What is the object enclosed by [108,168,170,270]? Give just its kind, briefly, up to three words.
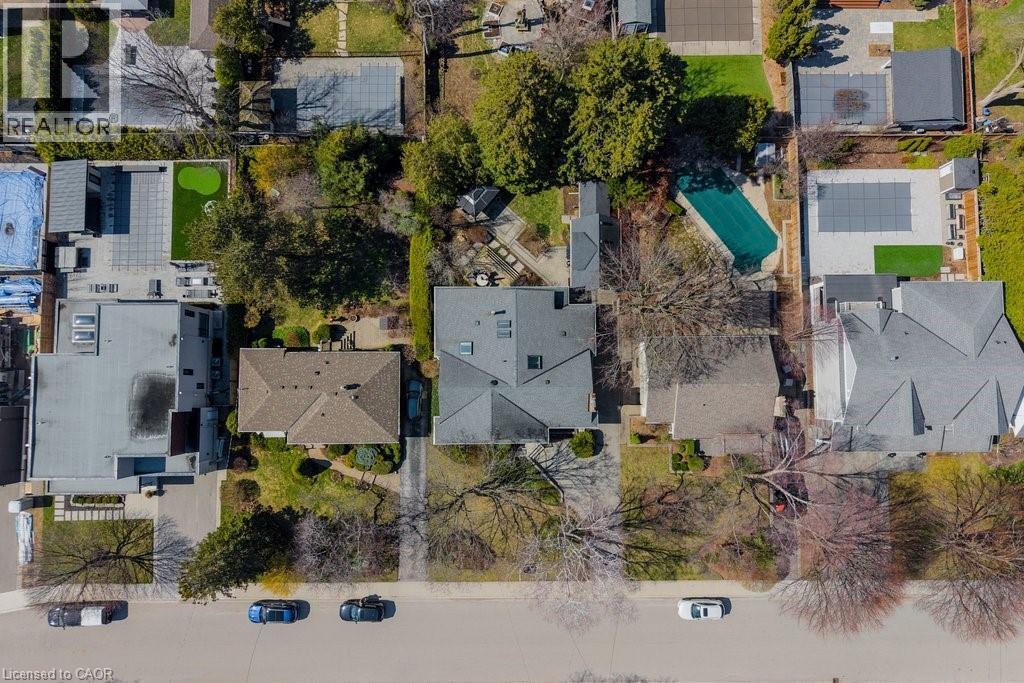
swimming pool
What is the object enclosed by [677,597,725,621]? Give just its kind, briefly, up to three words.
car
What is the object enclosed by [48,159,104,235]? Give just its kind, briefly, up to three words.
building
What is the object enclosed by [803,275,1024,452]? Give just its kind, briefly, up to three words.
house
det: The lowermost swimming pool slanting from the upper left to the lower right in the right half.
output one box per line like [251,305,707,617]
[678,168,777,275]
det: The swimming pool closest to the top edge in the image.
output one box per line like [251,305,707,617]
[654,0,756,44]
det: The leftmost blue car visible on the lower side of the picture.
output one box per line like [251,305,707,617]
[248,600,297,625]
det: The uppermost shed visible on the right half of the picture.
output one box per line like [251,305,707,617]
[615,0,652,33]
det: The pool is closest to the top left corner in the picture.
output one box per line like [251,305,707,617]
[67,66,112,122]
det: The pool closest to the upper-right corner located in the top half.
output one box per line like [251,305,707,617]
[798,70,890,129]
